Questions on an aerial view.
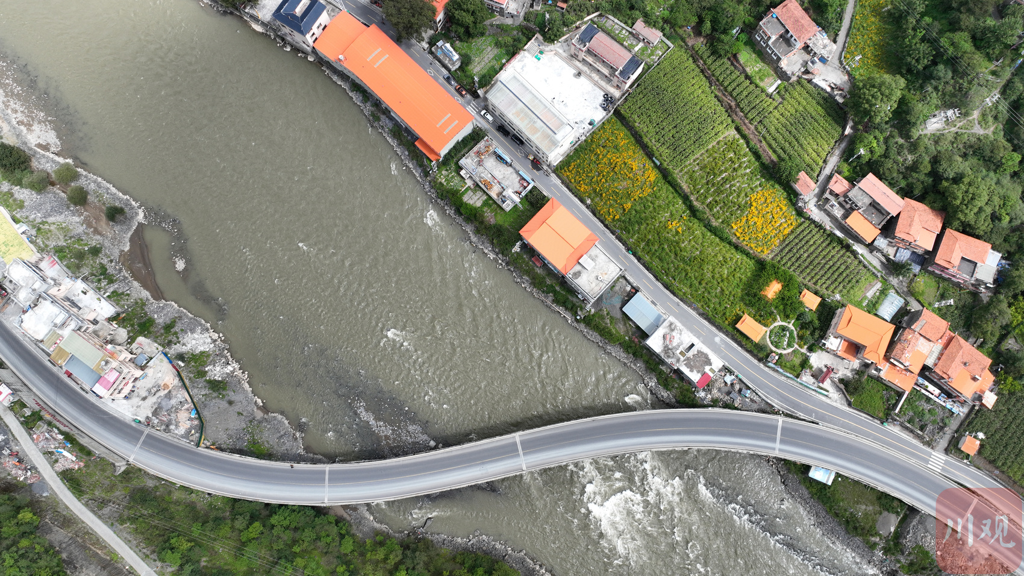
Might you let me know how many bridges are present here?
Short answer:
1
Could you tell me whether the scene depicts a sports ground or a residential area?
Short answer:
residential area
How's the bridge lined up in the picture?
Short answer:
from side to side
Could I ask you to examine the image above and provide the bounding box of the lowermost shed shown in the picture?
[805,466,836,485]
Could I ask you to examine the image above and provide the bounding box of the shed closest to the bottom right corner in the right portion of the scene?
[953,436,980,455]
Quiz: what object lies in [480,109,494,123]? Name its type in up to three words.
car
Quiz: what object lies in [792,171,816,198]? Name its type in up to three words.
shed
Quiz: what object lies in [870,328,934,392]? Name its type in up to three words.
house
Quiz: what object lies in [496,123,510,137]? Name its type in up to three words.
car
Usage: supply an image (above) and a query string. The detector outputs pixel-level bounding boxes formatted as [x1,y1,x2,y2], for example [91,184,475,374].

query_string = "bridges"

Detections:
[129,409,976,529]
